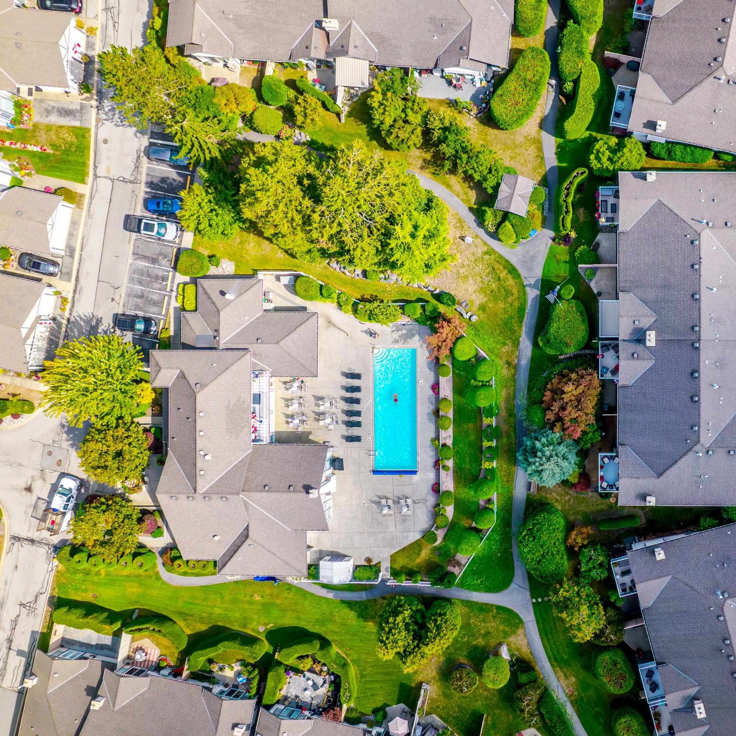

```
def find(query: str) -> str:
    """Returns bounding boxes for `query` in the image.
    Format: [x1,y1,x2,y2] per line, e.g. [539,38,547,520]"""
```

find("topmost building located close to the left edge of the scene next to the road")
[0,0,86,91]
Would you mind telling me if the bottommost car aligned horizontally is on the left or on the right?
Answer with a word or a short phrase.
left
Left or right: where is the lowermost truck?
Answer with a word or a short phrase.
left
